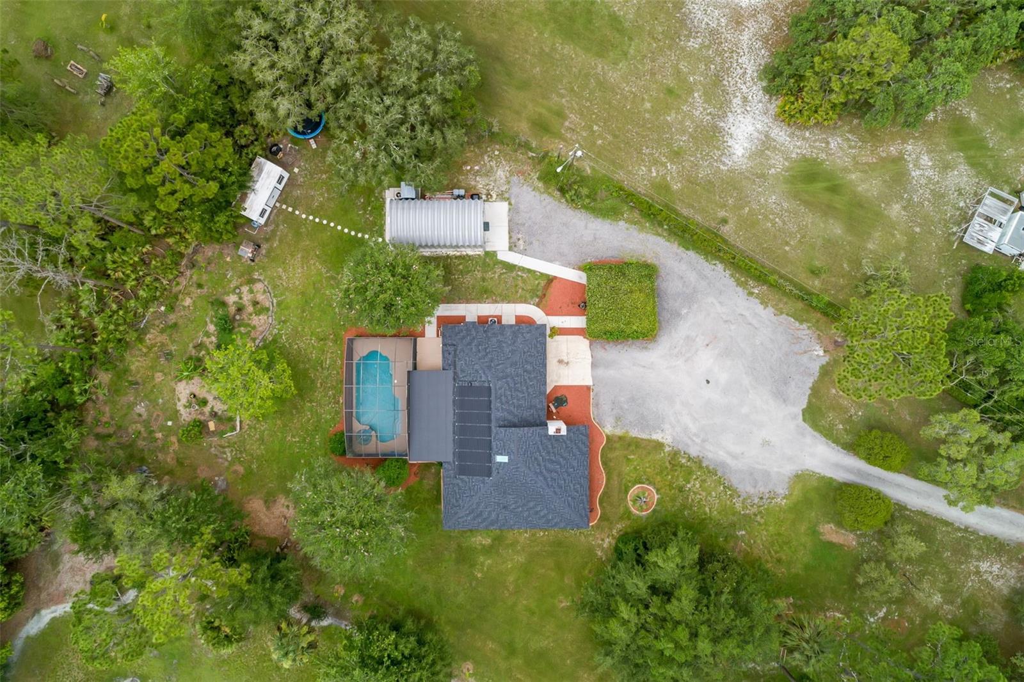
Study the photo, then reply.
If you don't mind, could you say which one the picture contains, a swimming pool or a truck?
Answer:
swimming pool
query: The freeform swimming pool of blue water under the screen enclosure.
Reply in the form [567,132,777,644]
[354,350,402,444]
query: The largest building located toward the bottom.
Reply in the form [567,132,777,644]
[407,322,590,529]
